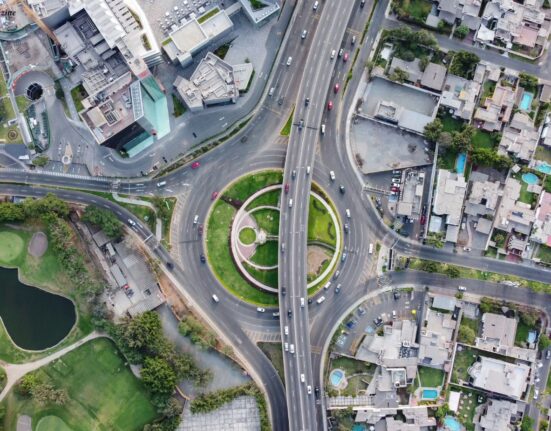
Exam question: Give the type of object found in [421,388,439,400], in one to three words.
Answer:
swimming pool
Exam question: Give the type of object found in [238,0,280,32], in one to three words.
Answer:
building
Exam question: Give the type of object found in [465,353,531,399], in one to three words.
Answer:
house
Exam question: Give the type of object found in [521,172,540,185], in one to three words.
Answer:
swimming pool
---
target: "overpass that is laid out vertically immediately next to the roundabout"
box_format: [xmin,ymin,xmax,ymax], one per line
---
[278,0,355,431]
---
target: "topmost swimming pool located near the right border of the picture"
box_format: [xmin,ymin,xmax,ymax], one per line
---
[519,90,533,109]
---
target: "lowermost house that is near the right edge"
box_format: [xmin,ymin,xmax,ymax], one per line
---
[469,393,525,431]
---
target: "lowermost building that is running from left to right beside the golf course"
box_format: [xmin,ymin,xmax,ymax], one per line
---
[179,393,260,431]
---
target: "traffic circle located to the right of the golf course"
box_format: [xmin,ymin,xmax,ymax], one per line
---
[204,168,343,307]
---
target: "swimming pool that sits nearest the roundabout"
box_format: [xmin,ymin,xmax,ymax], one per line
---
[328,369,345,388]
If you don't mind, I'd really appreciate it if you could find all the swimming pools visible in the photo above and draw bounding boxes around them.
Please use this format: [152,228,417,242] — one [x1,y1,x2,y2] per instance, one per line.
[521,172,540,185]
[421,388,439,400]
[456,151,467,174]
[349,421,368,431]
[328,369,345,388]
[534,161,551,174]
[527,331,536,343]
[443,415,464,431]
[519,90,533,109]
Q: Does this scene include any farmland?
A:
No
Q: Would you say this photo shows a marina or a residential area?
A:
residential area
